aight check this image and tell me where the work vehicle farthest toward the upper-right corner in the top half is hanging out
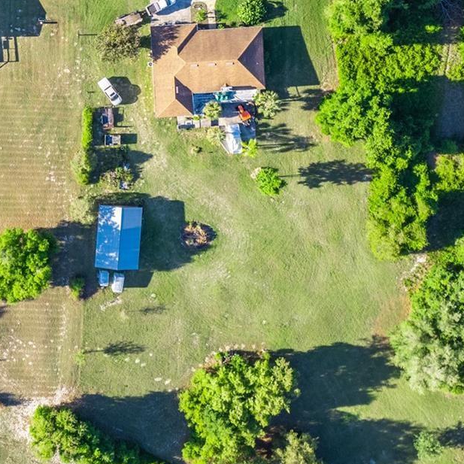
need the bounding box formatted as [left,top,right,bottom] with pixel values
[236,102,254,125]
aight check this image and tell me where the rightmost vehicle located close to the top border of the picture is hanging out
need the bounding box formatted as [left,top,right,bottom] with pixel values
[144,0,176,18]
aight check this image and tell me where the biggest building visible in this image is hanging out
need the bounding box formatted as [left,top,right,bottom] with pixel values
[150,23,264,119]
